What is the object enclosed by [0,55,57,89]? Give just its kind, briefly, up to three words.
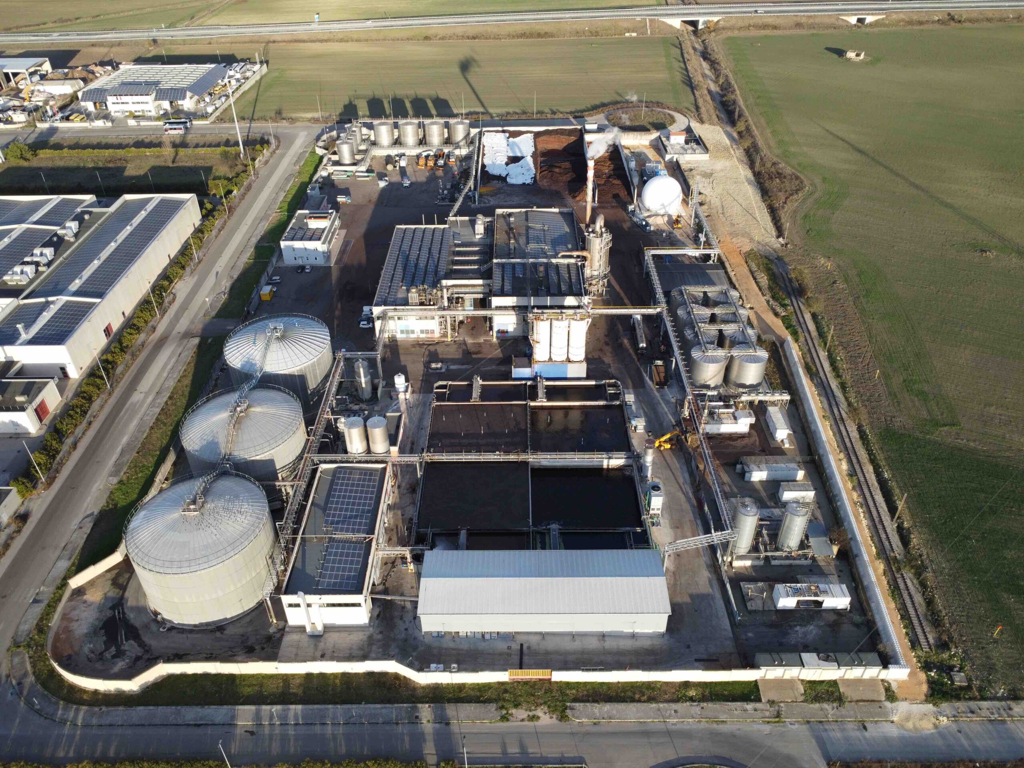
shed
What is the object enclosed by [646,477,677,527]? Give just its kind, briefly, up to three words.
cooling tower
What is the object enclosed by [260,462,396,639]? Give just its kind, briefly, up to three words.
building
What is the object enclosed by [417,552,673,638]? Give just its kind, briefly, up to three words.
shed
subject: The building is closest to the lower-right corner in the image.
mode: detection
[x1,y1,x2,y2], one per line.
[833,643,891,679]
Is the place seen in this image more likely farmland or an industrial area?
industrial area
